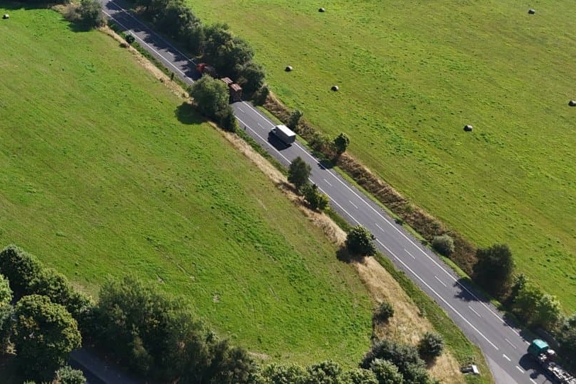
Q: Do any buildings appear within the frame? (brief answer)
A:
No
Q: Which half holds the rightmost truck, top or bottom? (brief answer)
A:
bottom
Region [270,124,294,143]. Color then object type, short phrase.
white vehicle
